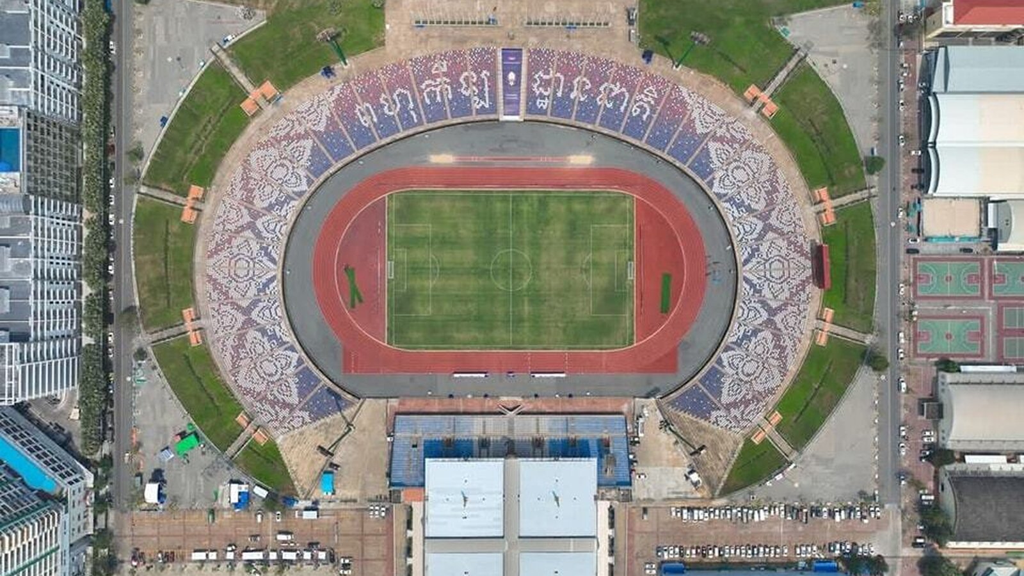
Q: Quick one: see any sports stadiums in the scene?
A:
Yes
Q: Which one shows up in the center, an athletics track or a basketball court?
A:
athletics track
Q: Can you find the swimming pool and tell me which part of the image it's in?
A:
bottom left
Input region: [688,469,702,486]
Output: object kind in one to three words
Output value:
vehicle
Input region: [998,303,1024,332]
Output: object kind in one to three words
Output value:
tennis court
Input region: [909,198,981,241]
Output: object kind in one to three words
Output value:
building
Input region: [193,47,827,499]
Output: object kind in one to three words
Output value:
stadium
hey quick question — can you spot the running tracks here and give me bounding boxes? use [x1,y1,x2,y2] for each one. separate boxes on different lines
[314,152,706,373]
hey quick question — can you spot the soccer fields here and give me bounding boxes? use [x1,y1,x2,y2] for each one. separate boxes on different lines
[386,189,635,351]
